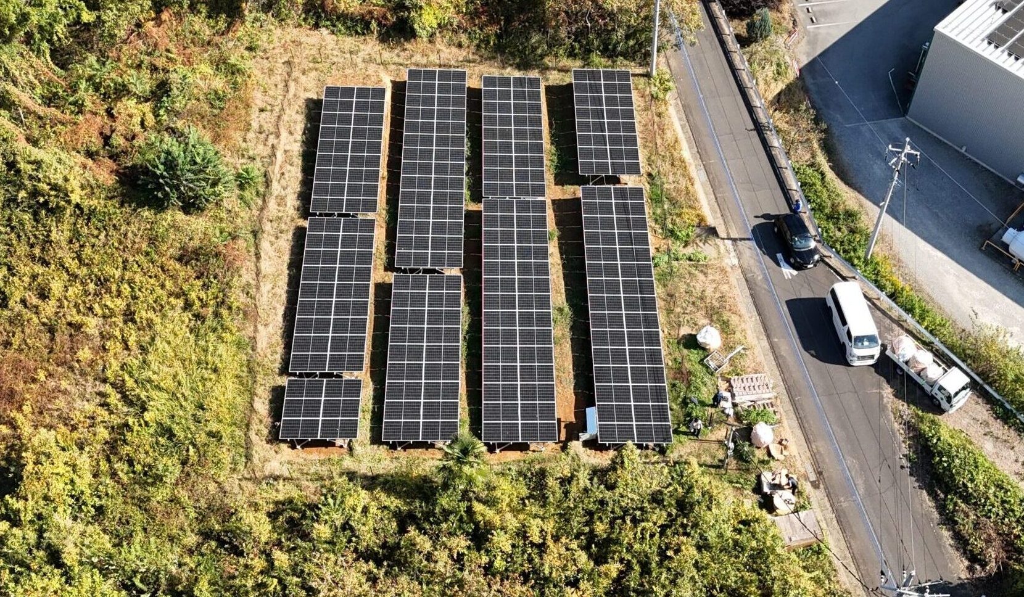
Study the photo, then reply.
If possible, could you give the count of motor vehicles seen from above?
3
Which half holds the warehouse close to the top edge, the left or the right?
right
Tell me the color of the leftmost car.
black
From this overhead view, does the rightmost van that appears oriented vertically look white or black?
white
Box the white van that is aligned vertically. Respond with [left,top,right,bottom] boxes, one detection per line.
[826,276,882,366]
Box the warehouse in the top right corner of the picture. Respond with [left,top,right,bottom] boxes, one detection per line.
[904,0,1024,187]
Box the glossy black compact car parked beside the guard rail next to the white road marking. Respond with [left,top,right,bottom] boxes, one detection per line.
[771,213,820,275]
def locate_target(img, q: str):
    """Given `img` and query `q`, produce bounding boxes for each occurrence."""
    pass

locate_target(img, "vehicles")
[826,276,882,366]
[878,324,984,420]
[771,213,820,275]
